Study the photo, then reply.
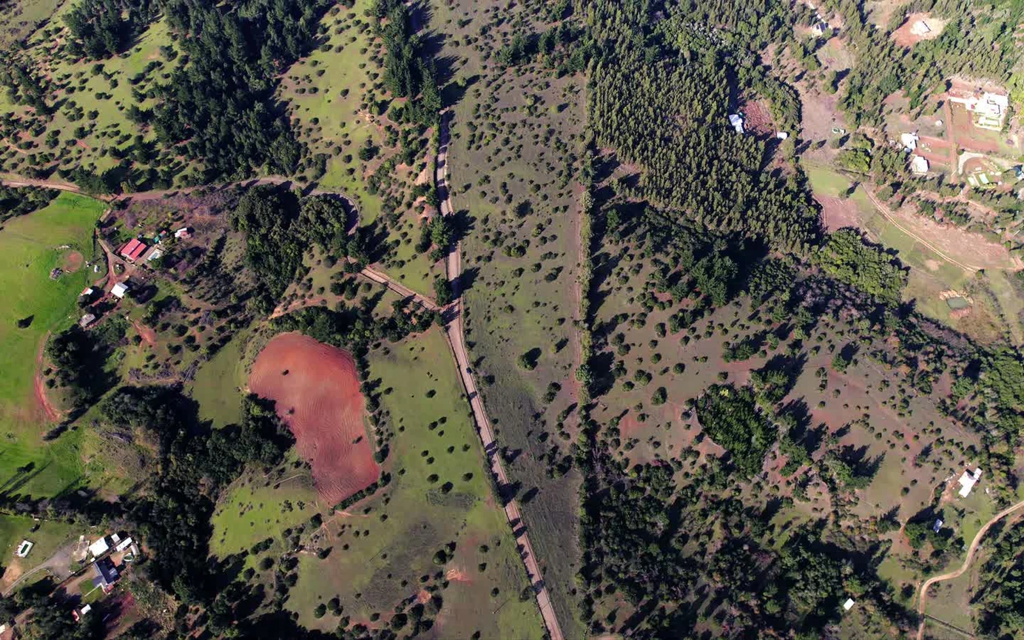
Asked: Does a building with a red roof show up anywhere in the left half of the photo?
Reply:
Yes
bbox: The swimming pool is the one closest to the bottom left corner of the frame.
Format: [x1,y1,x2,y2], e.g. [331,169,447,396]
[19,540,35,557]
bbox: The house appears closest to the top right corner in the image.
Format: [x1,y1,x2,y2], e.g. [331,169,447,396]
[964,93,1010,129]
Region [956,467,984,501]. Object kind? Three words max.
house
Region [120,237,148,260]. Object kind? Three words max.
house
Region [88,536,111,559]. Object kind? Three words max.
barn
